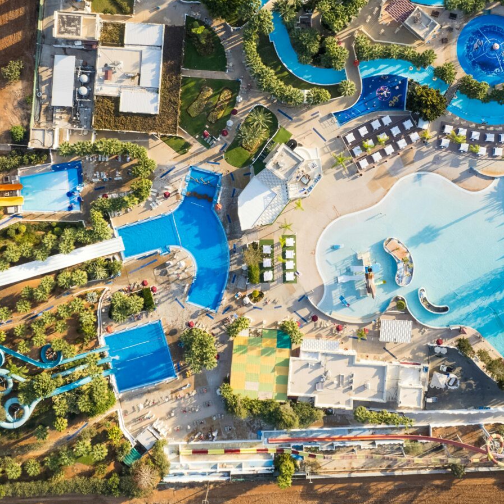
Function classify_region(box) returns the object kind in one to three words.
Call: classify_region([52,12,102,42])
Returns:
building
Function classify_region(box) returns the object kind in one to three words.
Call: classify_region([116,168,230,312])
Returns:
swimming pool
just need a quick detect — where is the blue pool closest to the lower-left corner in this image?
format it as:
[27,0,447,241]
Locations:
[102,321,177,393]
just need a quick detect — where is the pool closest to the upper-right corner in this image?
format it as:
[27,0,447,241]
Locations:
[457,13,504,84]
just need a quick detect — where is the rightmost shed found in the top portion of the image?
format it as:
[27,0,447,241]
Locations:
[402,6,441,42]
